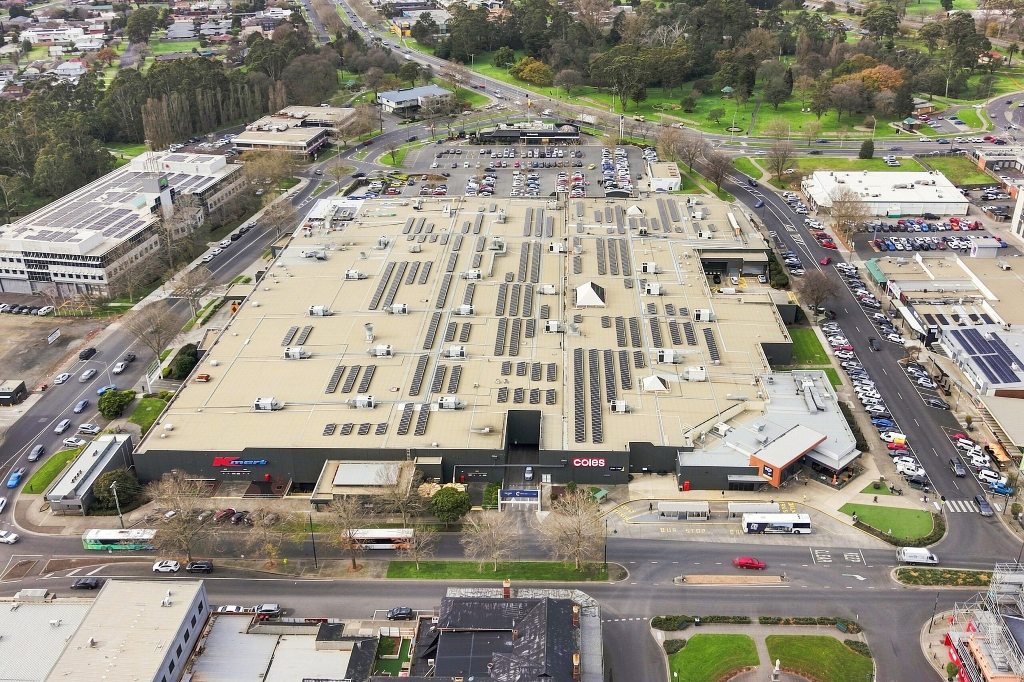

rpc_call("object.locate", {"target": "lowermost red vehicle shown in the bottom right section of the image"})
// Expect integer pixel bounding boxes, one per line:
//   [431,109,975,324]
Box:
[734,556,765,570]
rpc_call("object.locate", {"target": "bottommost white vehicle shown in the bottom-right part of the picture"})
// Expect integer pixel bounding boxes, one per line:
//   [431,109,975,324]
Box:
[896,544,938,566]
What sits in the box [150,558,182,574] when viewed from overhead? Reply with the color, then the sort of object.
white car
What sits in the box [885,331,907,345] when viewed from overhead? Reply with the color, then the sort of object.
white car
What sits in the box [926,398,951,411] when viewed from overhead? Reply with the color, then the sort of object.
gray vehicle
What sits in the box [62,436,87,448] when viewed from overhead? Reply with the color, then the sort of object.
white vehicle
